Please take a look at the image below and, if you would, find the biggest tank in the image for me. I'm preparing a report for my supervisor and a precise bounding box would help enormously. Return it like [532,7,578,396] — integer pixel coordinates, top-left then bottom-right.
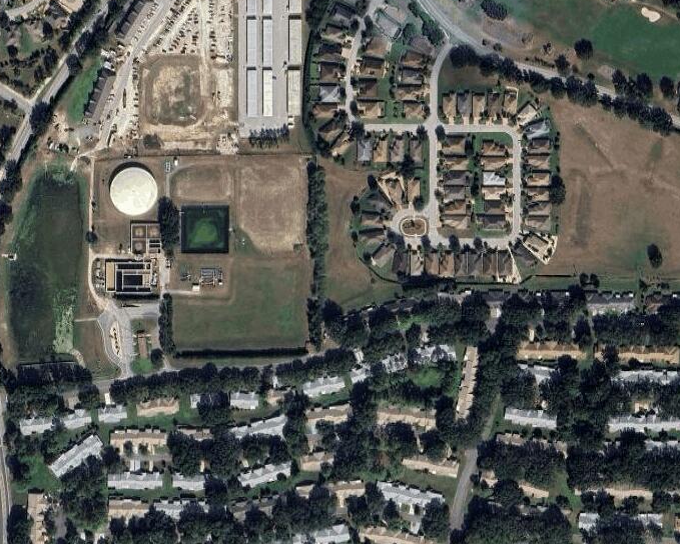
[110,166,157,214]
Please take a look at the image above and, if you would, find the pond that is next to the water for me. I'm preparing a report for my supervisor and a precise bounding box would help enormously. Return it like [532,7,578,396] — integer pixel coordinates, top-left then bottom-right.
[12,176,81,360]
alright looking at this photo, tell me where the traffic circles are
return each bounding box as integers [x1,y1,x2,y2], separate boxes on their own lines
[395,211,432,241]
